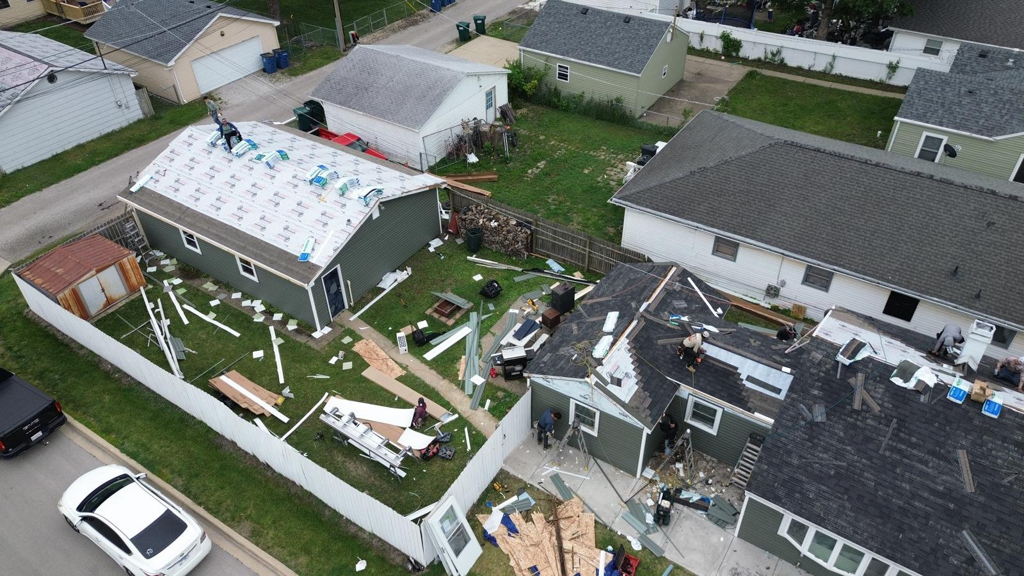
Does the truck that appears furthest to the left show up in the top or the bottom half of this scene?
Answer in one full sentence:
The truck that appears furthest to the left is in the bottom half of the image.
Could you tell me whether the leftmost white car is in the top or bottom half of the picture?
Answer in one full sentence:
Seen from above, the leftmost white car lies in the bottom half of the view.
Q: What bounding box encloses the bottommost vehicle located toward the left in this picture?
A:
[62,469,217,576]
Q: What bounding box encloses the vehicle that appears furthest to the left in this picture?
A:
[0,355,71,469]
